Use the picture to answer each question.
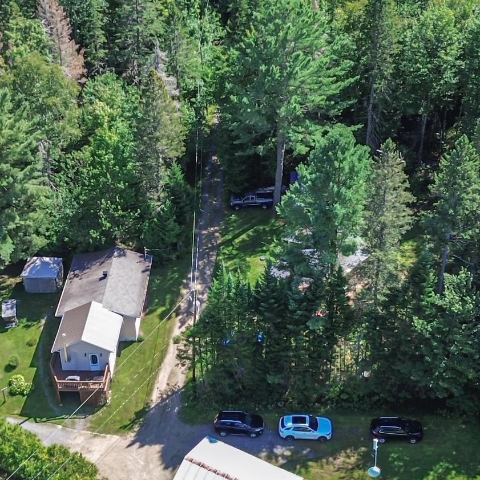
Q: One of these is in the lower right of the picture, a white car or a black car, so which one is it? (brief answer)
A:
black car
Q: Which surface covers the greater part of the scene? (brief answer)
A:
trees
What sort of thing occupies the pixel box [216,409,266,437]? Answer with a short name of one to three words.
car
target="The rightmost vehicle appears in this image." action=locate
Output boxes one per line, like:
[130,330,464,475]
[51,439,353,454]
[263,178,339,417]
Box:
[370,417,424,444]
